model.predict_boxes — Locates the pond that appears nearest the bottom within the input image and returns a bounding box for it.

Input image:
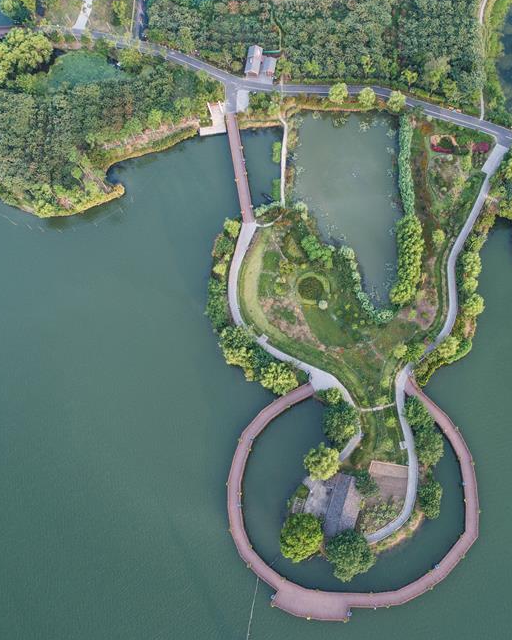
[289,110,401,304]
